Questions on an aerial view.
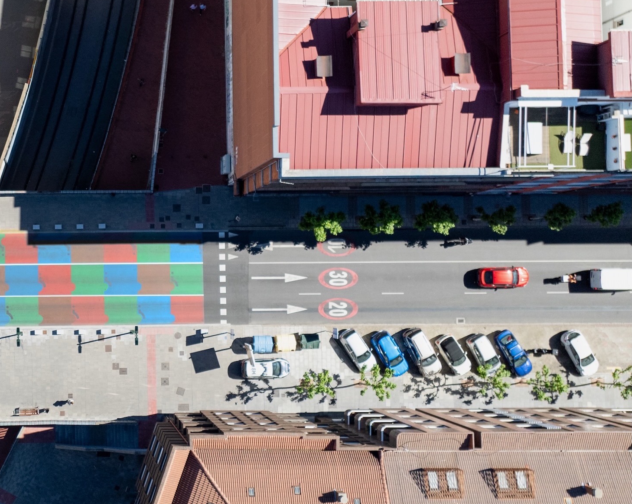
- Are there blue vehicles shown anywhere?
Yes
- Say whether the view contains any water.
No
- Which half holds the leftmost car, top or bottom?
bottom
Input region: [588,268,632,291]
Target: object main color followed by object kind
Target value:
white vehicle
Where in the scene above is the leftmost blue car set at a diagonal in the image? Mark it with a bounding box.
[368,328,409,378]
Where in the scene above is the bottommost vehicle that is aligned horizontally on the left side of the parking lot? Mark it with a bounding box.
[238,356,292,383]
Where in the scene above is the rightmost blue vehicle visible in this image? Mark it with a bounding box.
[492,326,532,378]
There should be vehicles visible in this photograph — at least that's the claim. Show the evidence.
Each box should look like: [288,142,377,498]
[527,347,559,359]
[432,330,473,379]
[339,325,381,377]
[492,326,532,378]
[474,264,528,291]
[588,268,632,291]
[464,330,504,379]
[446,239,462,245]
[238,356,292,383]
[402,324,444,378]
[368,328,409,378]
[558,326,599,379]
